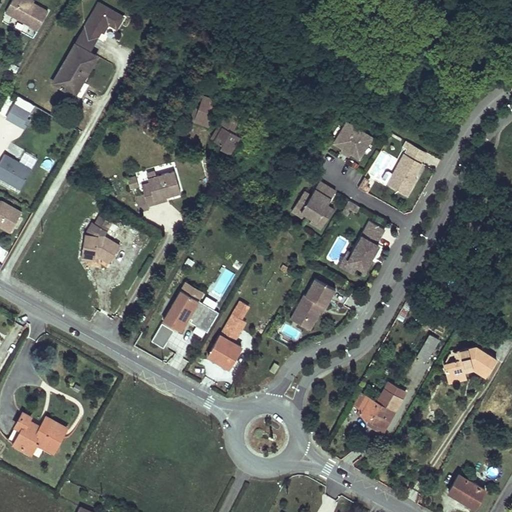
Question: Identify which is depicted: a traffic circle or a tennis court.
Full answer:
I can see a traffic circle in this picture.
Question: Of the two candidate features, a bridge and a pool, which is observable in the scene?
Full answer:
This aerial view contains a pool.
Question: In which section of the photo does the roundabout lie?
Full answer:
Look in the bottom portion of the view to spot the roundabout.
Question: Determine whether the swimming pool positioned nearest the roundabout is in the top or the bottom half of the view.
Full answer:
It is in the bottom half that the swimming pool positioned nearest the roundabout appears.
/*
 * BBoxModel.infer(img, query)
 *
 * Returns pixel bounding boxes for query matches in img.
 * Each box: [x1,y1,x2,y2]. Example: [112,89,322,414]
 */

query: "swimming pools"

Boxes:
[326,238,348,264]
[208,264,236,302]
[278,323,302,344]
[40,157,55,172]
[488,467,499,478]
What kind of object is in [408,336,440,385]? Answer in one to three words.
shed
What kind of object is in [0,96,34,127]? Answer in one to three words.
building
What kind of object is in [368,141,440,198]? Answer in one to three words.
house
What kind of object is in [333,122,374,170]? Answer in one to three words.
house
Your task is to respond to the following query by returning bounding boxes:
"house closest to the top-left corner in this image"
[2,0,50,38]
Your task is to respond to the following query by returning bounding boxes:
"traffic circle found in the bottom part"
[224,394,308,478]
